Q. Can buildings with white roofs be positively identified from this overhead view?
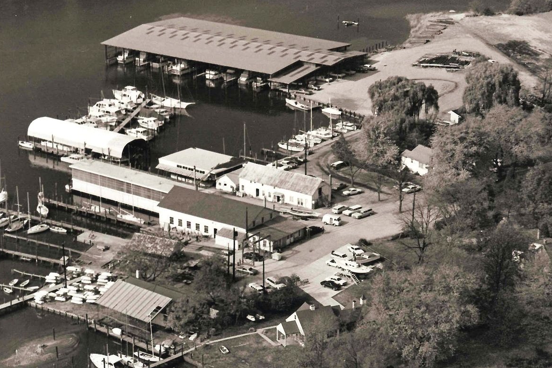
Yes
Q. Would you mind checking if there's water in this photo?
Yes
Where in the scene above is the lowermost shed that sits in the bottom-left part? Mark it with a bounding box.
[96,279,206,337]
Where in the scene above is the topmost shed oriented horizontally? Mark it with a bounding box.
[102,17,375,98]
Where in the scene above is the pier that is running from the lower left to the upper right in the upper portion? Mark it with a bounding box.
[115,96,154,128]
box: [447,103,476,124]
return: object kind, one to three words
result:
shed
